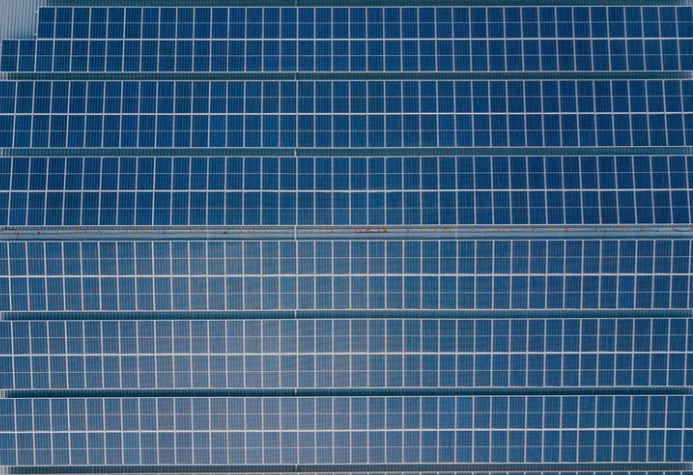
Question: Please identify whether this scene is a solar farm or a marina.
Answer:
solar farm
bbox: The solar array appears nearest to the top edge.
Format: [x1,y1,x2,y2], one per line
[0,7,693,72]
